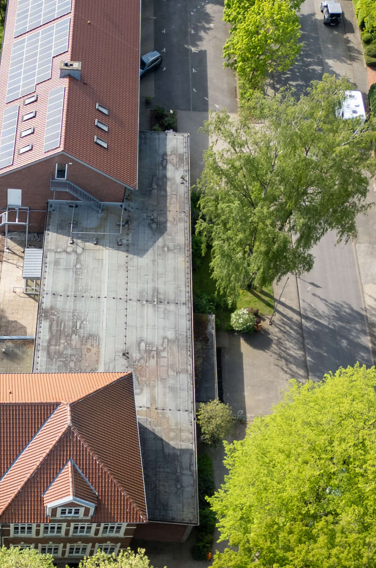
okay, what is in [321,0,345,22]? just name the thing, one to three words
car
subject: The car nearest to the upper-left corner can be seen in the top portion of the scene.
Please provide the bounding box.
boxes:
[139,51,169,85]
